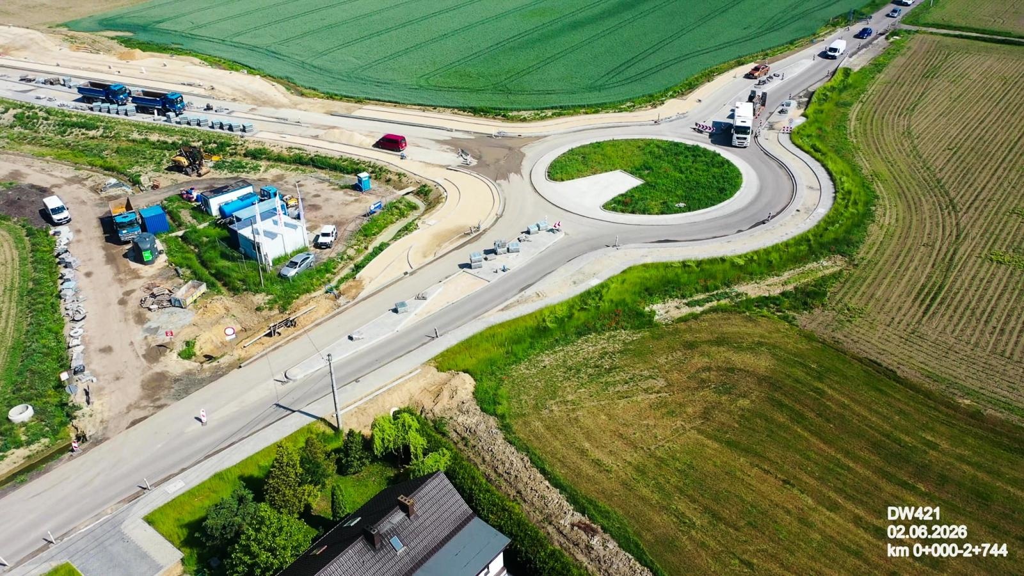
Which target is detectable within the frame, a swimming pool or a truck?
truck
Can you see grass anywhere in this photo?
Yes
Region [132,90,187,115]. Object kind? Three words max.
truck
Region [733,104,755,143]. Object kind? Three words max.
truck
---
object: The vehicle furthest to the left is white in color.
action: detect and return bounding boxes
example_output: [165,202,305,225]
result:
[41,194,69,221]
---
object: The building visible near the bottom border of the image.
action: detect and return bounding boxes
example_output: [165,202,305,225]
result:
[273,468,513,576]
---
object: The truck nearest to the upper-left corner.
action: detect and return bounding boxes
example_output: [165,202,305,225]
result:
[78,81,131,104]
